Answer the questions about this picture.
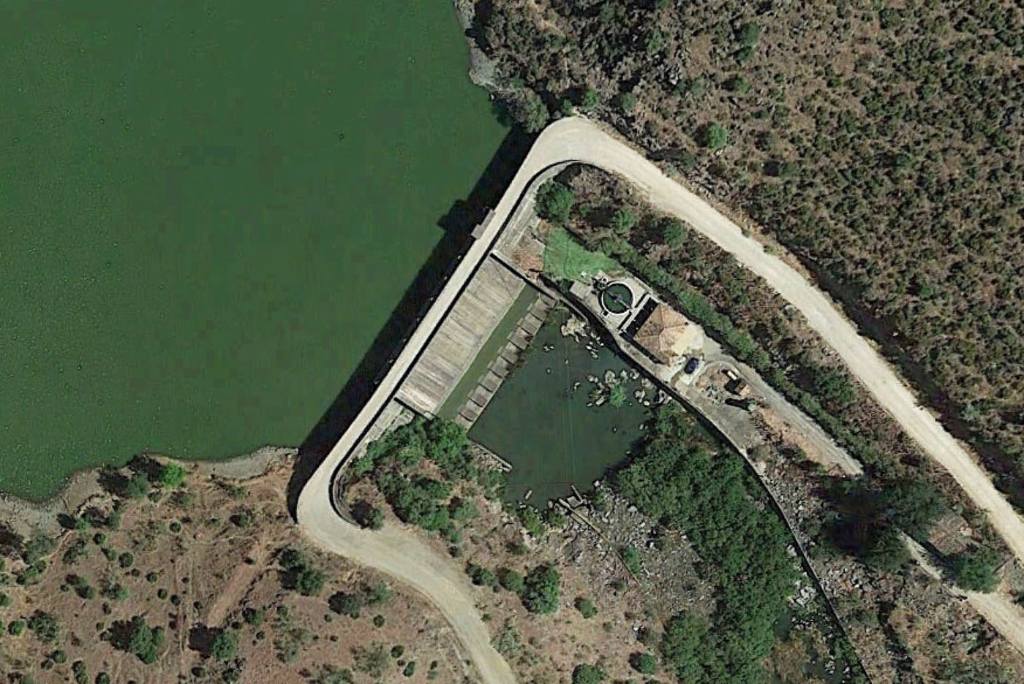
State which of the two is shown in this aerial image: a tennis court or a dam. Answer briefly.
dam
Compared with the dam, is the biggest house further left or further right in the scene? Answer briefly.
to the right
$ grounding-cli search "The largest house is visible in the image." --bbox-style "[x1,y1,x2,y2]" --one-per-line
[633,303,697,366]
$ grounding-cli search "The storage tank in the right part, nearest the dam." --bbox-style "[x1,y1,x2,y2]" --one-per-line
[602,282,634,314]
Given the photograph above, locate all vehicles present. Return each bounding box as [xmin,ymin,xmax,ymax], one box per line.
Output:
[686,358,698,374]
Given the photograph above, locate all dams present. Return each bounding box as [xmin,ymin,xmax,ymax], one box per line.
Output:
[297,115,587,541]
